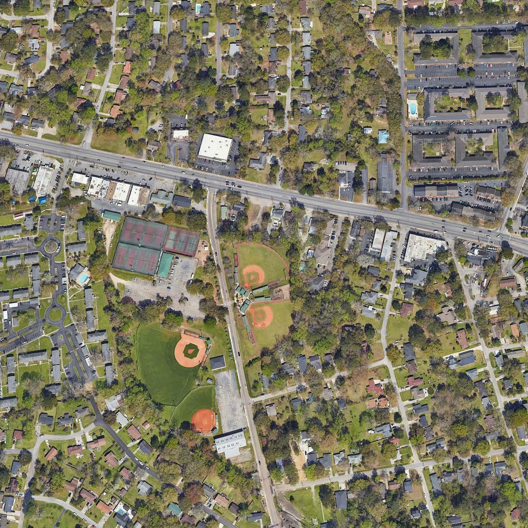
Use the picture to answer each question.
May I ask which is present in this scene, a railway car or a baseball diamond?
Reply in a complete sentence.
I can see a baseball diamond in this picture.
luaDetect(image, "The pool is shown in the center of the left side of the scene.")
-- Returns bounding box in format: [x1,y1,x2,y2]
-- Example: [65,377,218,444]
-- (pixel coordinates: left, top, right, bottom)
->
[75,270,93,288]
